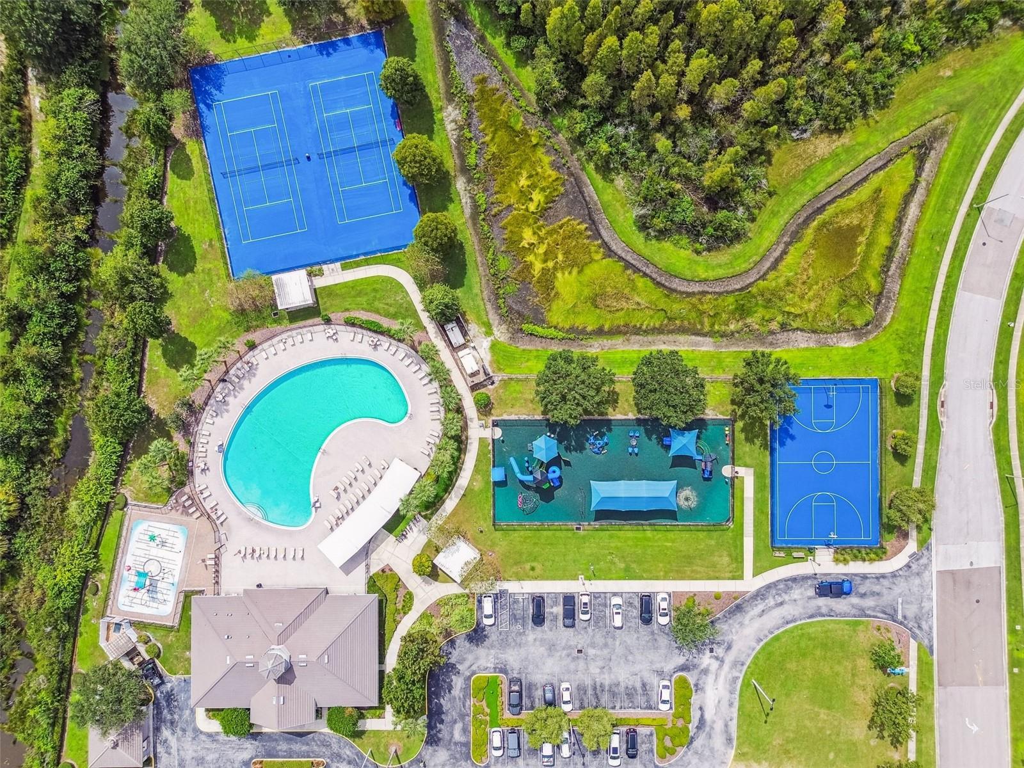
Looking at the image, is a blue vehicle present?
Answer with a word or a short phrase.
Yes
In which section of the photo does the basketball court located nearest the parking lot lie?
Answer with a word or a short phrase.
right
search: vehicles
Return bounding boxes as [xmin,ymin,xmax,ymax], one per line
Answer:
[814,580,850,596]
[578,592,592,620]
[658,680,672,709]
[608,731,622,764]
[508,677,522,714]
[562,593,576,627]
[560,682,573,711]
[141,656,168,689]
[541,745,555,764]
[490,728,504,756]
[531,595,545,626]
[639,594,654,624]
[610,597,624,628]
[507,727,521,758]
[625,728,639,757]
[542,683,556,710]
[559,729,573,757]
[657,592,671,623]
[482,594,496,625]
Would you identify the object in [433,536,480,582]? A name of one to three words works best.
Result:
building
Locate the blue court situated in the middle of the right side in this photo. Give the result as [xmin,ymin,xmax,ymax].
[770,378,881,547]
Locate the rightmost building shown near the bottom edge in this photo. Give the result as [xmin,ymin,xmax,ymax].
[191,586,379,730]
